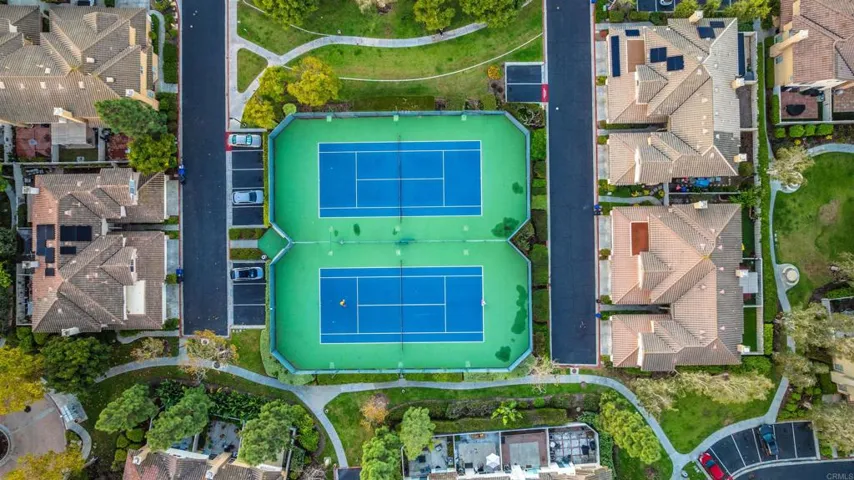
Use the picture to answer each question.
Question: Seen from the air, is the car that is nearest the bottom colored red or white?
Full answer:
The color of the car that is nearest the bottom is red.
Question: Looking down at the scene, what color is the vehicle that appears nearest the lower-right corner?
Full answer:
The vehicle that appears nearest the lower-right corner looks blue in the image.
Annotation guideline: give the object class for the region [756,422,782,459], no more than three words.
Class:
vehicle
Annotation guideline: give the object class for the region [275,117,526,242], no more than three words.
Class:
tennis court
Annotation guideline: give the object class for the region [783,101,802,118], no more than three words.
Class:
umbrella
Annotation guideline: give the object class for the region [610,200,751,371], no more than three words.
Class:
house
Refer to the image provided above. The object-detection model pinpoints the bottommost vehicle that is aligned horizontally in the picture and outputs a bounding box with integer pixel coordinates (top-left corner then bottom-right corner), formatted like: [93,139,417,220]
[233,266,265,281]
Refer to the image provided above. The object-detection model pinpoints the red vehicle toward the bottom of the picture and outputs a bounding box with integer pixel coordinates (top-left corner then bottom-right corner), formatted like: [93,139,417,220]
[701,452,730,480]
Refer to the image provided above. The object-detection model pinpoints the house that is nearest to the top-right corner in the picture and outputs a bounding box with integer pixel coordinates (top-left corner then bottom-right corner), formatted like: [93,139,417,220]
[769,0,854,90]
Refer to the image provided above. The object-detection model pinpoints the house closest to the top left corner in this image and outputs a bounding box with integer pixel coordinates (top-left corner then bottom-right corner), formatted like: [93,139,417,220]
[0,6,162,146]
